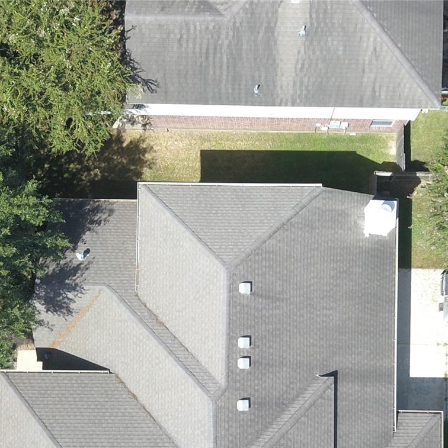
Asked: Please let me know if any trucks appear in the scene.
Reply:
No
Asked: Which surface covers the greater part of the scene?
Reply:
buildings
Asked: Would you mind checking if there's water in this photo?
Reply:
No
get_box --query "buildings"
[121,0,444,135]
[0,181,446,448]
